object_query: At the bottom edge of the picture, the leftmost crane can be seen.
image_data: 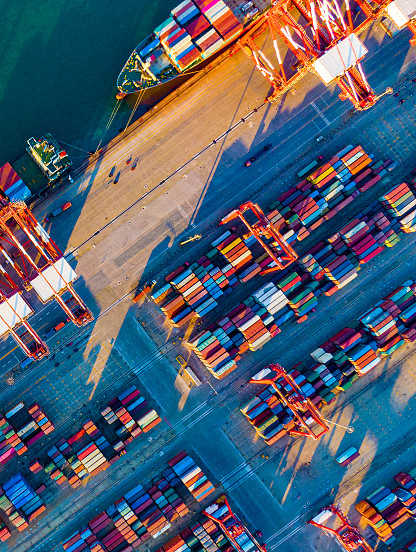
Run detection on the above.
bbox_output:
[197,491,271,552]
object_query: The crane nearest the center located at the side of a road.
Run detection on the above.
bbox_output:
[211,203,298,279]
